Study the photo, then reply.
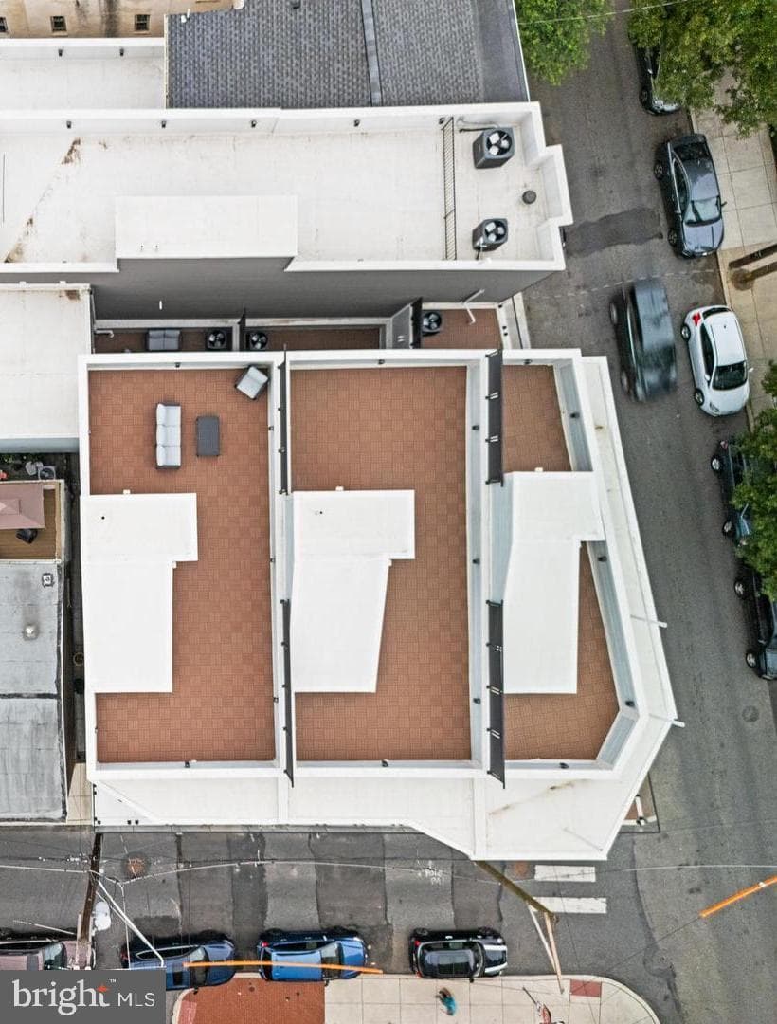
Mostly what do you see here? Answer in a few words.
buildings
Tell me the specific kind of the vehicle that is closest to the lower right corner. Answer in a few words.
car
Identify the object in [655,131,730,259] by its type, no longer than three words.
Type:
car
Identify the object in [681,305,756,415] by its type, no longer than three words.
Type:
car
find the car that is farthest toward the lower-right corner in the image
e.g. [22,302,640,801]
[409,929,510,989]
